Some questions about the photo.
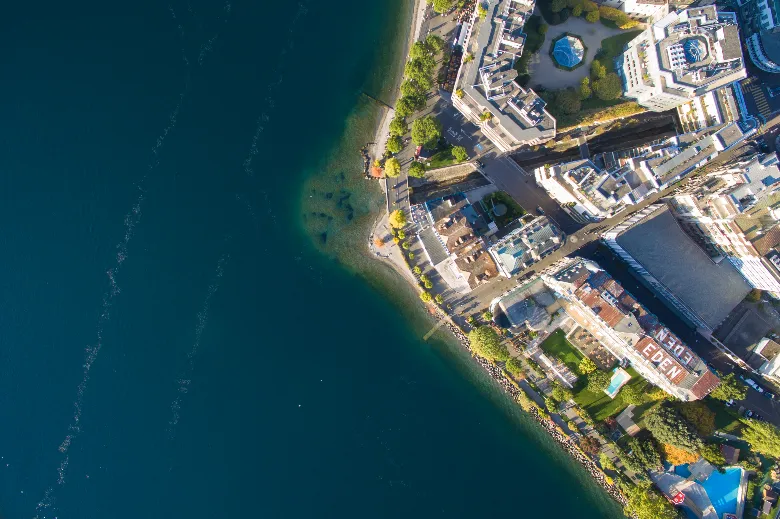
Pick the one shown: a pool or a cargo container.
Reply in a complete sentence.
There is a pool in the scene.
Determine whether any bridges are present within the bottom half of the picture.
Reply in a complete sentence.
No, there is no bridge within the bottom half of the picture.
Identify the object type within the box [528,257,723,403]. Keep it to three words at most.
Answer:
building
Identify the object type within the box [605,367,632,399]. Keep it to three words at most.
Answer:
swimming pool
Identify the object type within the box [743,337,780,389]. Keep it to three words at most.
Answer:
building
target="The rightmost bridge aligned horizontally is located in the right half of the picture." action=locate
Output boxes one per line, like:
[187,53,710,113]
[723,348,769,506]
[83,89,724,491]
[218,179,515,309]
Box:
[470,157,529,184]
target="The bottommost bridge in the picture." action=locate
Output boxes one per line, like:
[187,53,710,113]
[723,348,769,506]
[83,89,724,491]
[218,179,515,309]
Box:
[386,177,412,216]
